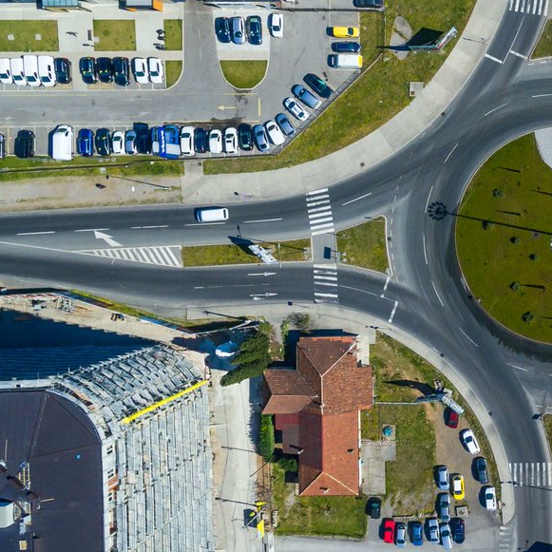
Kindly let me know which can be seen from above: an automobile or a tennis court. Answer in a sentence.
Visible in the photo is an automobile.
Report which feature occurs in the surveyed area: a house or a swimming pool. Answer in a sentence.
The one in the frame is a house.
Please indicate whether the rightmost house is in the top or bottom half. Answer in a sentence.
You can find the rightmost house in the bottom half.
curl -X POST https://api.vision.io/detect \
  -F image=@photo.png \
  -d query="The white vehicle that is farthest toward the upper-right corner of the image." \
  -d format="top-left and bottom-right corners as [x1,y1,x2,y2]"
[328,53,361,68]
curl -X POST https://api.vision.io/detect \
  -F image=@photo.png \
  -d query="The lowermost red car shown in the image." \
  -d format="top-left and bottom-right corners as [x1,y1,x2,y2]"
[383,518,396,543]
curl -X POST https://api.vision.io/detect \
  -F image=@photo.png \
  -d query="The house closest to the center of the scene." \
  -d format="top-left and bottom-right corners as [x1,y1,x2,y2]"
[262,339,377,496]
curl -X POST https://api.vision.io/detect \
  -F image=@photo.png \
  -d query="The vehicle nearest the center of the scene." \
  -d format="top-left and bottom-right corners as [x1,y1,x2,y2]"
[197,207,229,221]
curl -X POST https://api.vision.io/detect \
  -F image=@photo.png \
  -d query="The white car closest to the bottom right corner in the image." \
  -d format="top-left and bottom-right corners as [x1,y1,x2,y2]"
[484,483,497,511]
